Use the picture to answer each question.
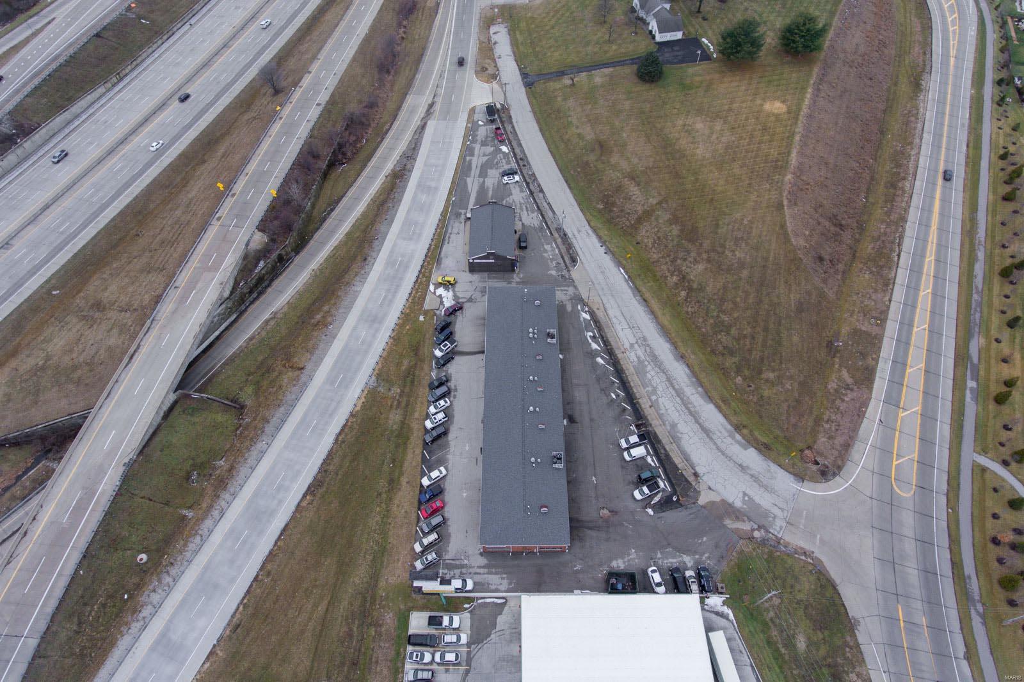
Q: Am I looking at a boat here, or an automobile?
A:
automobile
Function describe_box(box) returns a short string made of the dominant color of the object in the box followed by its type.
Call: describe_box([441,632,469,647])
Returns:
white car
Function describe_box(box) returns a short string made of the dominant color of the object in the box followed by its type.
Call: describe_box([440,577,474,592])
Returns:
white vehicle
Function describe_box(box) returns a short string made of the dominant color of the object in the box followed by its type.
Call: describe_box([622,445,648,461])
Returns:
white vehicle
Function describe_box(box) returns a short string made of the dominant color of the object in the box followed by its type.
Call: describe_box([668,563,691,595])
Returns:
black truck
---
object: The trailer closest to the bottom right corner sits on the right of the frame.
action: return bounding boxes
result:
[705,630,741,682]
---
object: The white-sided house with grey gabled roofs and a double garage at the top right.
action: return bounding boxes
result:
[621,0,685,41]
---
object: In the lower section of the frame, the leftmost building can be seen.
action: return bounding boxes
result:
[479,284,570,552]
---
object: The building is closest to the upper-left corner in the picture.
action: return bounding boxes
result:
[468,203,516,272]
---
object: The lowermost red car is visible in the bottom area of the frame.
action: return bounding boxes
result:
[420,499,446,518]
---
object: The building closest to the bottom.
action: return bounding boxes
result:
[521,595,712,682]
